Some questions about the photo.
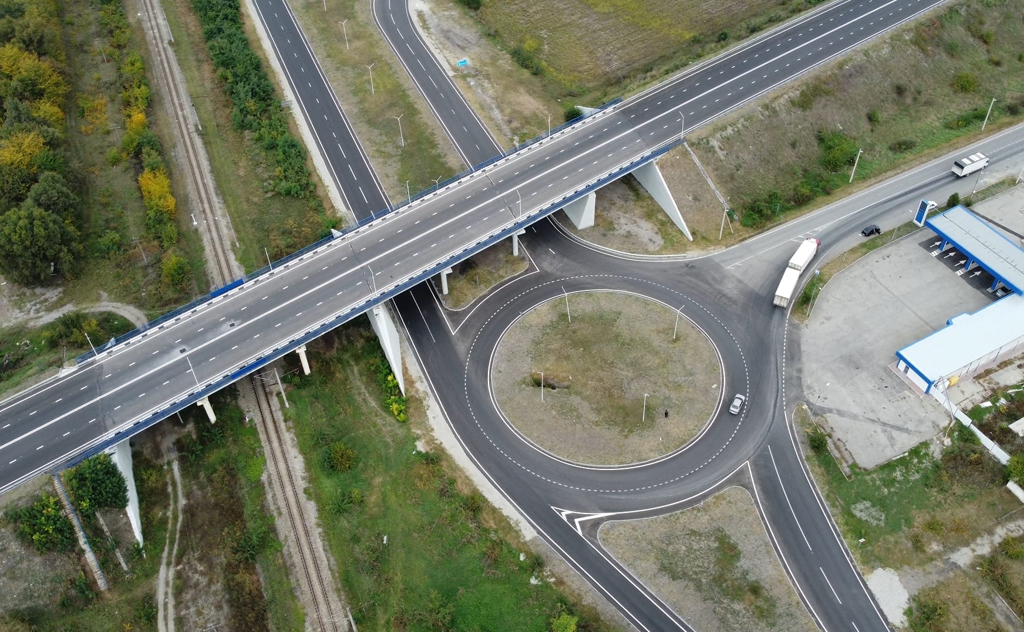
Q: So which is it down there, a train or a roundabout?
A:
roundabout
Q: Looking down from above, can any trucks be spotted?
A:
Yes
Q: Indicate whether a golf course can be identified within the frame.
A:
No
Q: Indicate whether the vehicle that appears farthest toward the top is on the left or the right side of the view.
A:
right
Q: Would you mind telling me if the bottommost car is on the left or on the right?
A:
right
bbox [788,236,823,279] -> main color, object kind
white truck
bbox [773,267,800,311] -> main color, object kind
white trailer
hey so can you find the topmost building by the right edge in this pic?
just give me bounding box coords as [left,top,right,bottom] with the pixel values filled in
[893,292,1024,394]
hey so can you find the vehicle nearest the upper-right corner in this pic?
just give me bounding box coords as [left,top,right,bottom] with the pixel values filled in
[954,153,986,175]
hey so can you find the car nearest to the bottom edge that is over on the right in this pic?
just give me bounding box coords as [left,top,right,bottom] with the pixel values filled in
[727,392,747,418]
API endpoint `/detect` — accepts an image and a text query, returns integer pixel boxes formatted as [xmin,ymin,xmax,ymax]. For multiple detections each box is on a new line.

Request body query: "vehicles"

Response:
[860,224,883,238]
[727,392,747,418]
[954,153,986,175]
[788,236,823,279]
[996,282,1019,297]
[926,199,941,210]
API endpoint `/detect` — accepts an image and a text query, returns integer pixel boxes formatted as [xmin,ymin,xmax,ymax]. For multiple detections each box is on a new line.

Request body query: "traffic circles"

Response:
[432,249,806,545]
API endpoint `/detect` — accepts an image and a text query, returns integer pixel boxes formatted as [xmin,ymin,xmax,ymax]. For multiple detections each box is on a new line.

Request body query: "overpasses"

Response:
[75,94,696,567]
